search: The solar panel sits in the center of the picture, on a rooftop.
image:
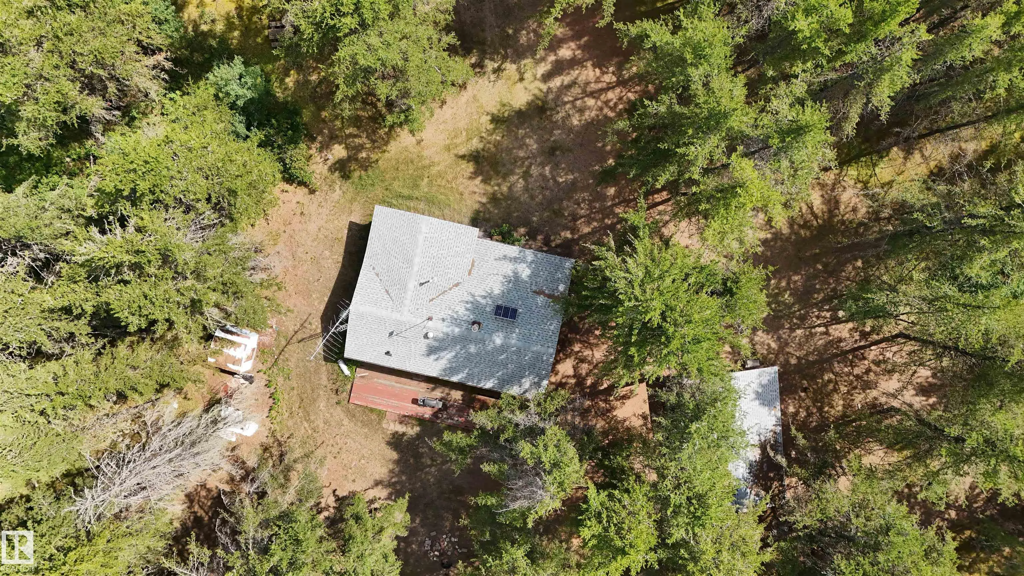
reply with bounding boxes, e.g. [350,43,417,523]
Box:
[494,303,517,321]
